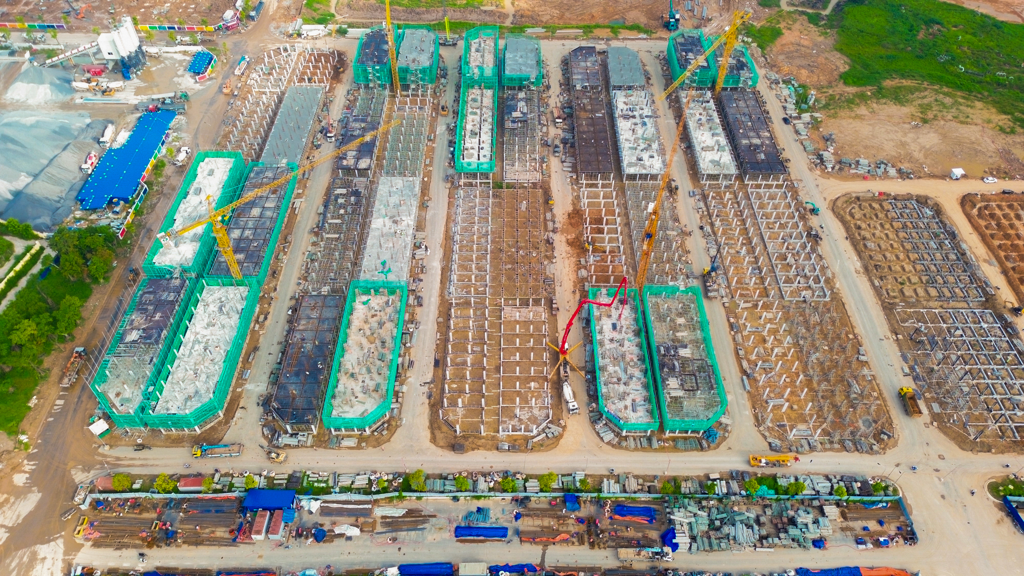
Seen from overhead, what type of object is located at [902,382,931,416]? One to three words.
truck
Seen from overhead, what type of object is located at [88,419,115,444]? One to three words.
building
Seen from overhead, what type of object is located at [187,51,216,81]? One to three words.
shed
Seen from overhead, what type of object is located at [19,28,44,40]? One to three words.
vehicle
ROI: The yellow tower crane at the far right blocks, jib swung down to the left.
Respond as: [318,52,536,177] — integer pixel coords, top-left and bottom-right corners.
[661,7,749,100]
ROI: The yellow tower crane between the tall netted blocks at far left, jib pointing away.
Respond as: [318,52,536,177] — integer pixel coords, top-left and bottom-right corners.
[379,0,401,101]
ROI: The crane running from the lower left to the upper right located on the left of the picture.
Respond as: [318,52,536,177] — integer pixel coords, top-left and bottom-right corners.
[149,118,401,280]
